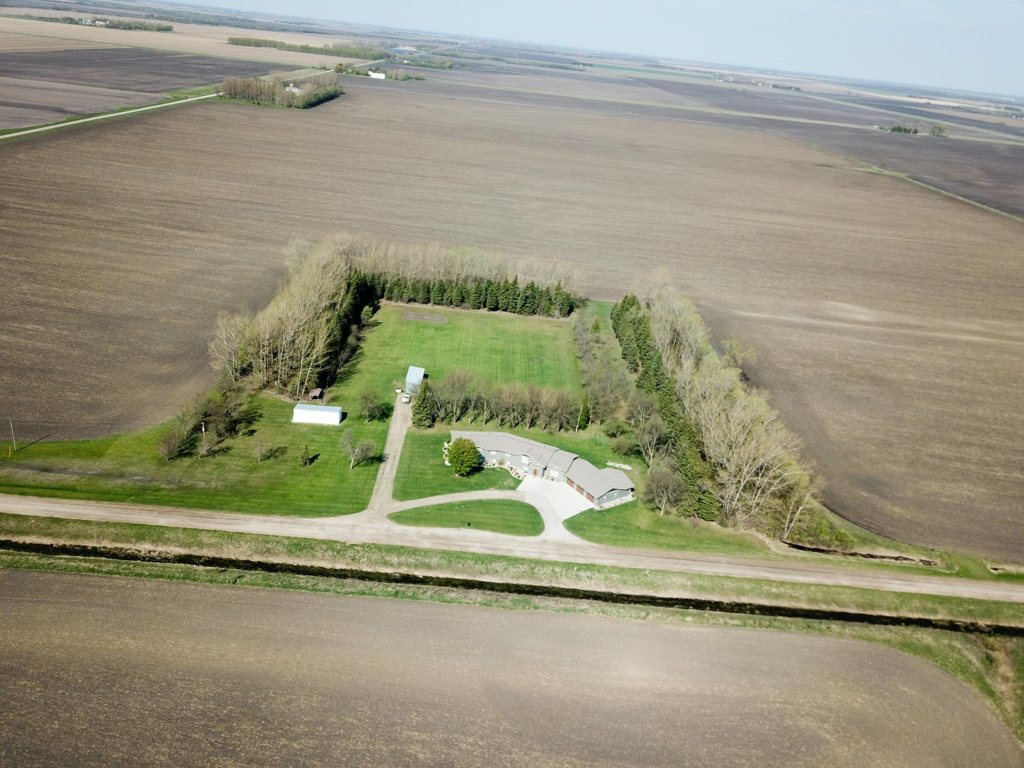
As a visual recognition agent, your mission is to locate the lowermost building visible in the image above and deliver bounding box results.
[448,431,634,509]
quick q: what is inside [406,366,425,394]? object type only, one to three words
barn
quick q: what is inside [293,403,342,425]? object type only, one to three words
shed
